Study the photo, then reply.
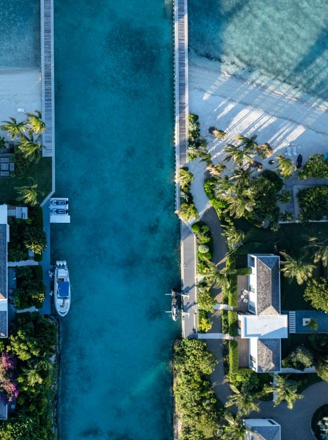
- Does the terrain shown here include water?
Yes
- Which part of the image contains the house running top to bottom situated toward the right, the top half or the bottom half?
bottom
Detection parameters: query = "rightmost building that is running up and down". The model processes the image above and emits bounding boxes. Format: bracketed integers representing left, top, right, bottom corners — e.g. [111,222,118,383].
[236,255,289,373]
